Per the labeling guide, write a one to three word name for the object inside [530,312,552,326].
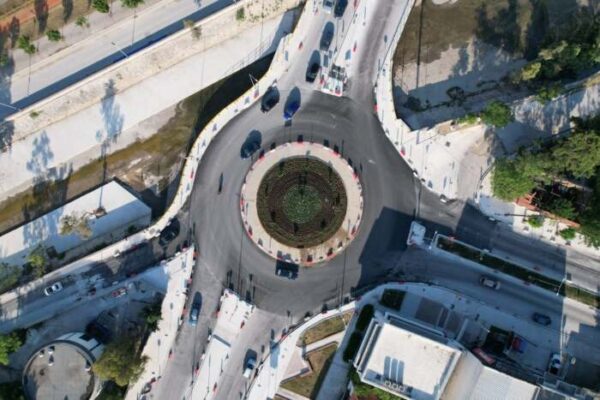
car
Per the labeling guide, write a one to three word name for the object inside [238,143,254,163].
car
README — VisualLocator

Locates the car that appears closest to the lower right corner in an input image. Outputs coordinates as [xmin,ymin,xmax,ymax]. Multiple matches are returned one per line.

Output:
[548,351,561,374]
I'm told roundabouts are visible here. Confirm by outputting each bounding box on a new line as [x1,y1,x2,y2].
[193,94,411,312]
